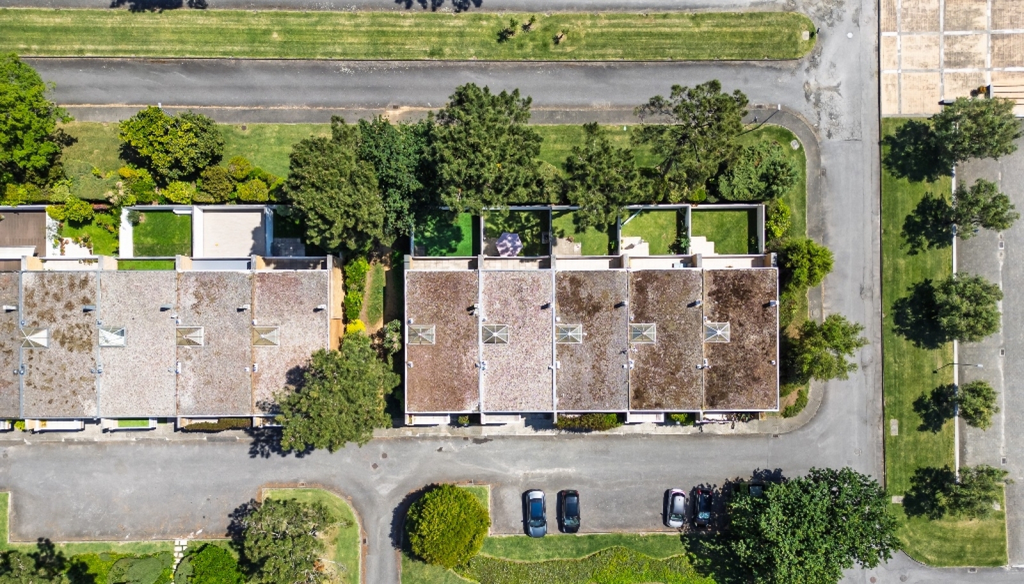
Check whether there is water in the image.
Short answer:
No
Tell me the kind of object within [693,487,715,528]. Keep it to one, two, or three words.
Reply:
car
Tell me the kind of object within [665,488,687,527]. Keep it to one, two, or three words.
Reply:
car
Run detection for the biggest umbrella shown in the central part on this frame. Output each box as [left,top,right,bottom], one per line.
[496,233,523,256]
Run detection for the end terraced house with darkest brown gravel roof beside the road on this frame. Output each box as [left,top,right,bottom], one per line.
[694,256,780,422]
